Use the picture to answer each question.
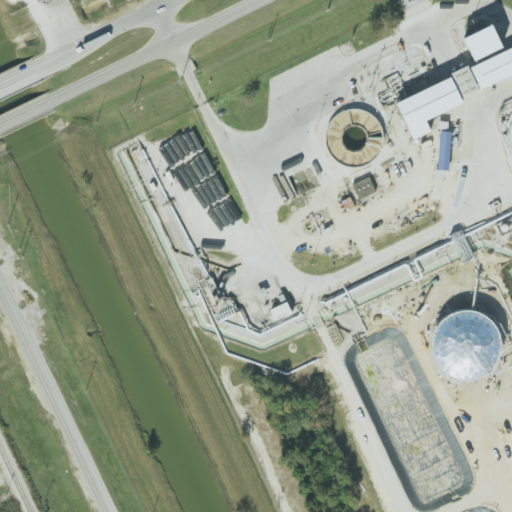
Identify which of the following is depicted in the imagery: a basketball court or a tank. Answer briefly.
tank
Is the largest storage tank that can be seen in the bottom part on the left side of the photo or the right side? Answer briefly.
right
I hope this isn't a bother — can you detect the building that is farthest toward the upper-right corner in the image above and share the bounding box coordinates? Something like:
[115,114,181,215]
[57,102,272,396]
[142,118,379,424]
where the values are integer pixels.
[466,22,506,61]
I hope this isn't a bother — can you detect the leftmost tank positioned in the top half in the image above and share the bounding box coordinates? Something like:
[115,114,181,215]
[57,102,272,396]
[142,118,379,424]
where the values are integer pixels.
[328,110,382,164]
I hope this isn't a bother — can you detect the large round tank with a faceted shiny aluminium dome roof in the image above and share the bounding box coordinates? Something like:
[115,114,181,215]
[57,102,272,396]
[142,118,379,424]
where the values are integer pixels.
[430,309,504,384]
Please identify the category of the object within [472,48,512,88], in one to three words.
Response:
building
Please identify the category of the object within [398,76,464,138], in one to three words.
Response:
building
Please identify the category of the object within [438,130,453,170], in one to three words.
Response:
shed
